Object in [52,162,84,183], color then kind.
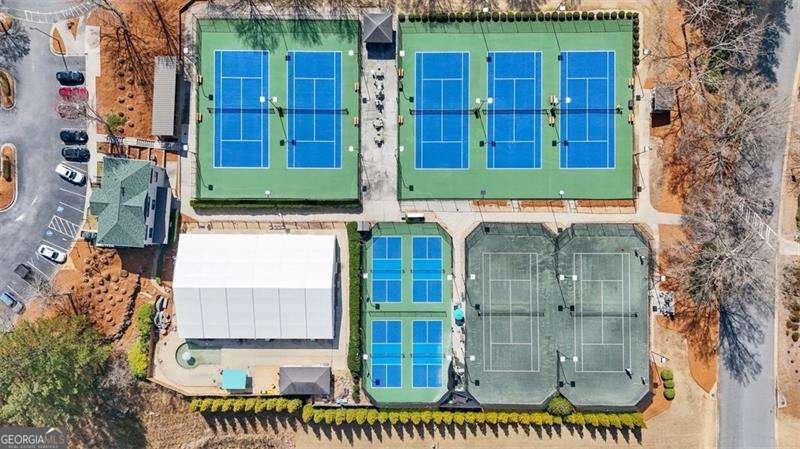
white truck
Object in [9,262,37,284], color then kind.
gray truck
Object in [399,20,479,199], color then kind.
green tennis court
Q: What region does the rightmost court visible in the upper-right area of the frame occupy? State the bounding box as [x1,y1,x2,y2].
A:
[552,20,634,199]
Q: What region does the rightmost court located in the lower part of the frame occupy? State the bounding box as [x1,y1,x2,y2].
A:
[556,224,651,404]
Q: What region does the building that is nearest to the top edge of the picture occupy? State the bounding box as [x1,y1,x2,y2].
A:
[363,12,392,45]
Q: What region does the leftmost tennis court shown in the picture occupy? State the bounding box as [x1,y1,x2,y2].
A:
[197,20,278,199]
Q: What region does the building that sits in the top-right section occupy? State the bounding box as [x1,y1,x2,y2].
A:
[646,88,673,112]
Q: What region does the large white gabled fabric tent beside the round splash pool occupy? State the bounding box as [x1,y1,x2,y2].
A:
[172,233,338,340]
